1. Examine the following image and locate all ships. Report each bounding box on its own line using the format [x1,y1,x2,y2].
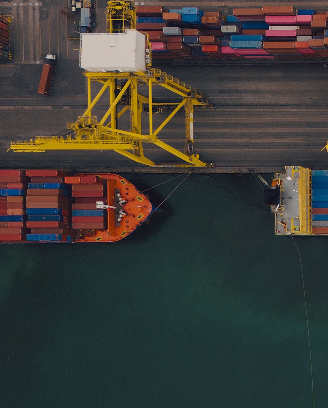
[0,173,165,244]
[265,168,328,237]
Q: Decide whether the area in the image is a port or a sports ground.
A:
port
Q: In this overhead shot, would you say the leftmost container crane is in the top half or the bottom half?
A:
top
